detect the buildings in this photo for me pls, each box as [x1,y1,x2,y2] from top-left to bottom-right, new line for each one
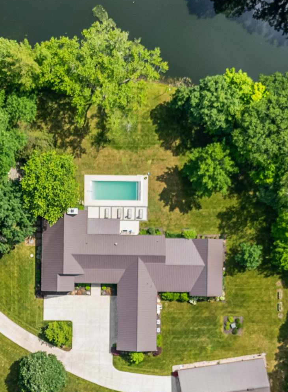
[41,208,224,352]
[177,358,270,392]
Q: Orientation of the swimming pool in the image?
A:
horizontally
